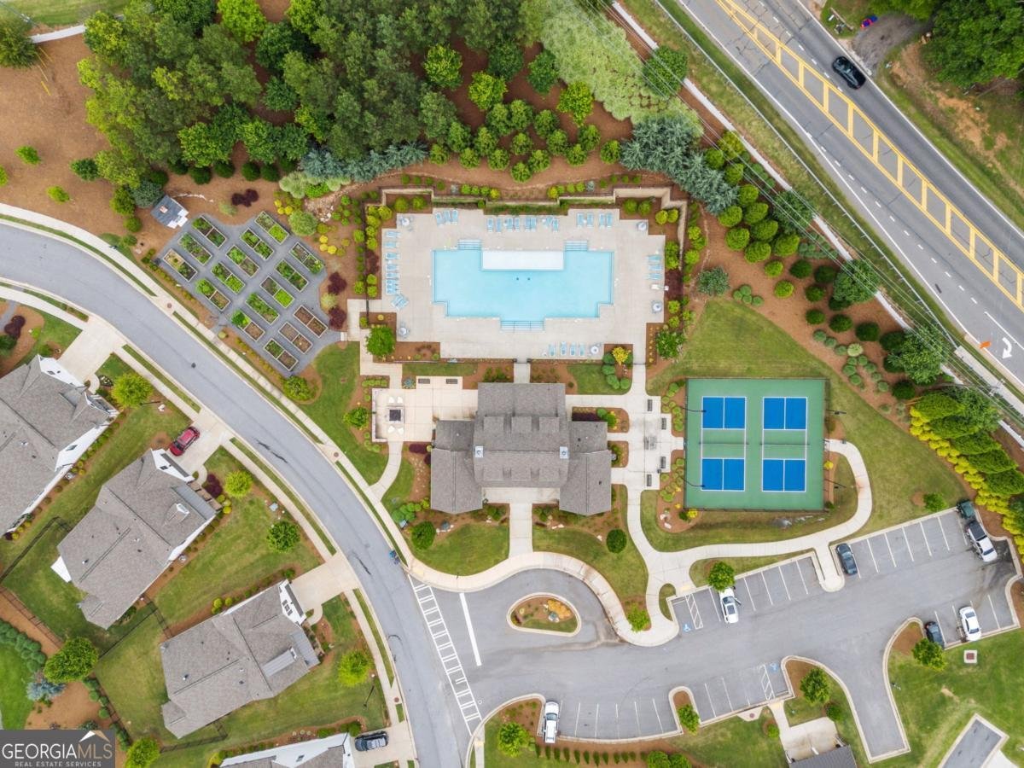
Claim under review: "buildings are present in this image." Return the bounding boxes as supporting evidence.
[149,581,330,739]
[790,736,862,768]
[49,447,229,630]
[144,190,187,235]
[217,732,371,768]
[0,355,125,544]
[431,384,611,513]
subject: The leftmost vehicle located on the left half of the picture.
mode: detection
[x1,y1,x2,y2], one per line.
[168,425,197,458]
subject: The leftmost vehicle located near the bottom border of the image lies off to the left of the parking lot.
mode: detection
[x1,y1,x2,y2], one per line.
[354,732,390,754]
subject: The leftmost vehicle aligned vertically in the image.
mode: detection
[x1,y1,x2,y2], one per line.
[542,705,560,744]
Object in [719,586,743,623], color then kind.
white car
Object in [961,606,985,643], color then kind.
white car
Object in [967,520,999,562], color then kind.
white truck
